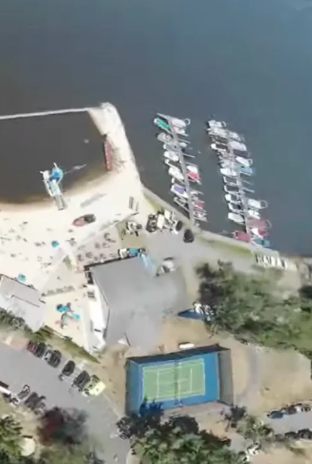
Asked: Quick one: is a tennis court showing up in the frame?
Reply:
Yes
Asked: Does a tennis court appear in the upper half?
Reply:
No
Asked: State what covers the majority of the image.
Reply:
water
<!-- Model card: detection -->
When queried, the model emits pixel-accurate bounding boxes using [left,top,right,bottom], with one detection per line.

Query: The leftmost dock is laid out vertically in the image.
[156,112,207,228]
